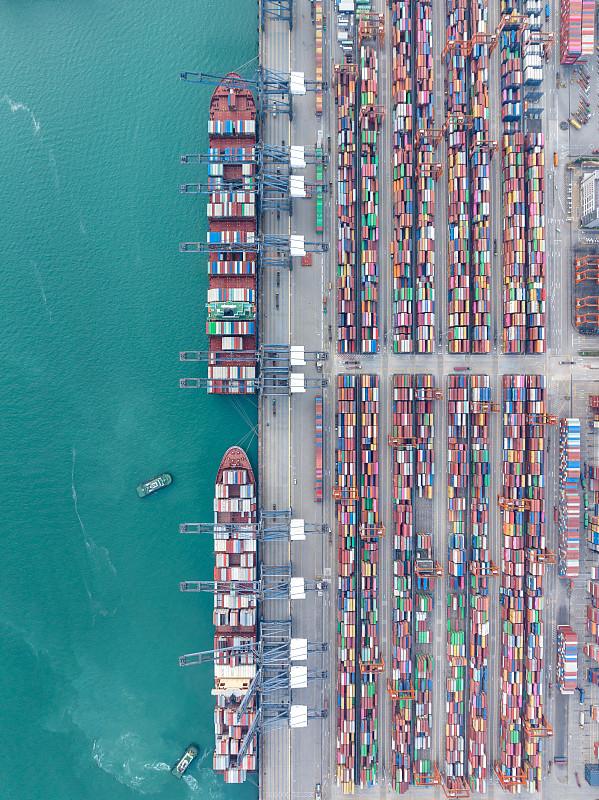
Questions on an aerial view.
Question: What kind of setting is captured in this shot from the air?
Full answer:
It's a port.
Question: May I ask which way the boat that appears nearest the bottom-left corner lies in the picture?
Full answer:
In this picture, the boat that appears nearest the bottom-left corner is oriented on a diagonal.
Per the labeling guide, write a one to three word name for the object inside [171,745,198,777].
boat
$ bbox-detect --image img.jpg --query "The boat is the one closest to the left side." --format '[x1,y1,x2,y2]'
[137,473,170,498]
